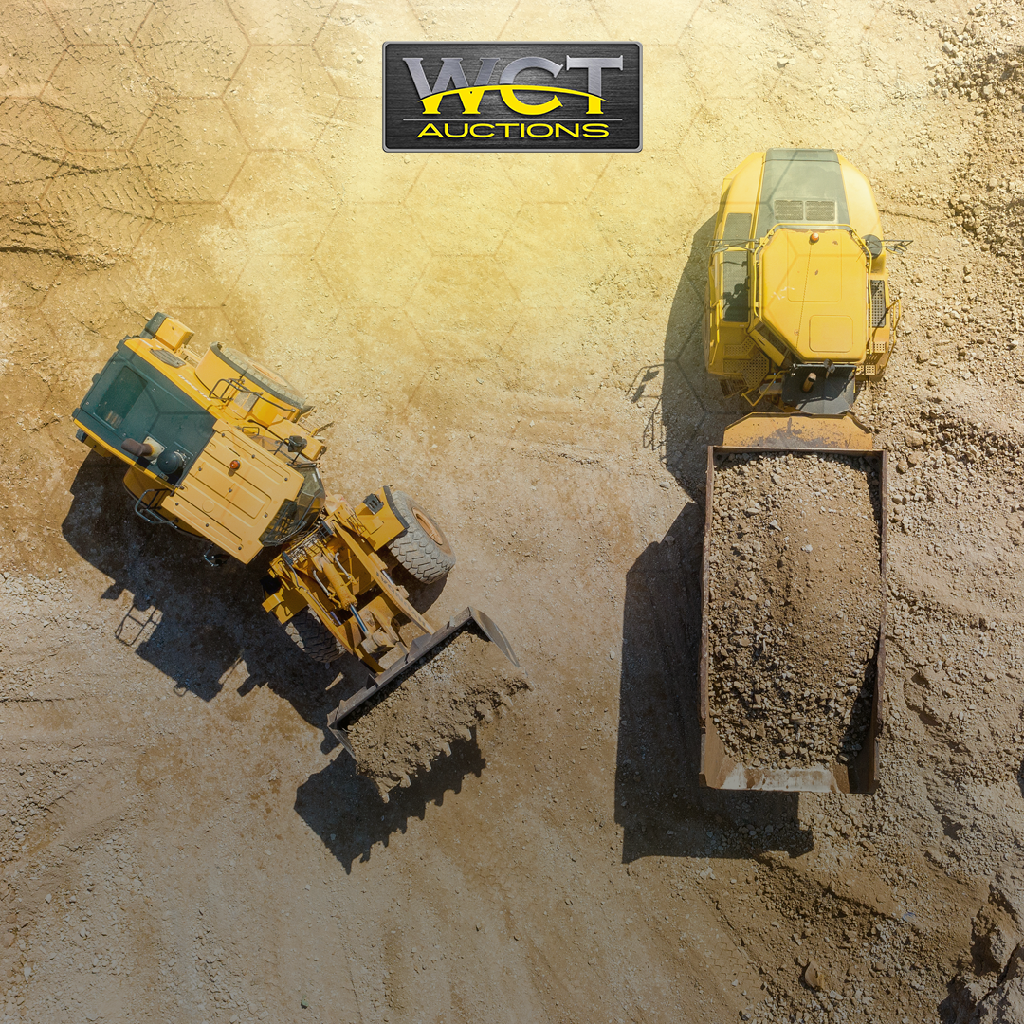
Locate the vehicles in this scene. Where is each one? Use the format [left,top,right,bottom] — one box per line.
[698,144,912,801]
[61,307,534,803]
